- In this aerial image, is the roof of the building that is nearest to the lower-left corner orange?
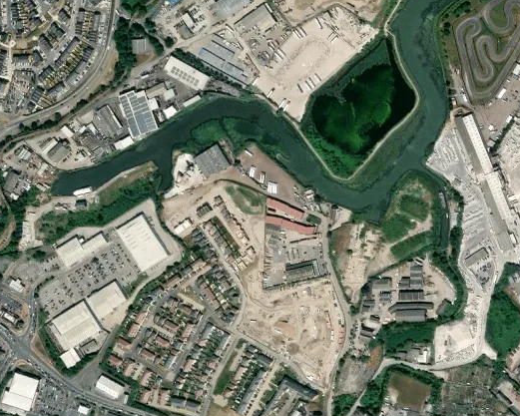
No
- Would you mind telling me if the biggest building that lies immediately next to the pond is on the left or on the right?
right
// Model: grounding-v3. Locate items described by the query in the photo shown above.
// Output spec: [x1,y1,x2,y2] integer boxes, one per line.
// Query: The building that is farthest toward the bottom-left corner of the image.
[1,372,40,412]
